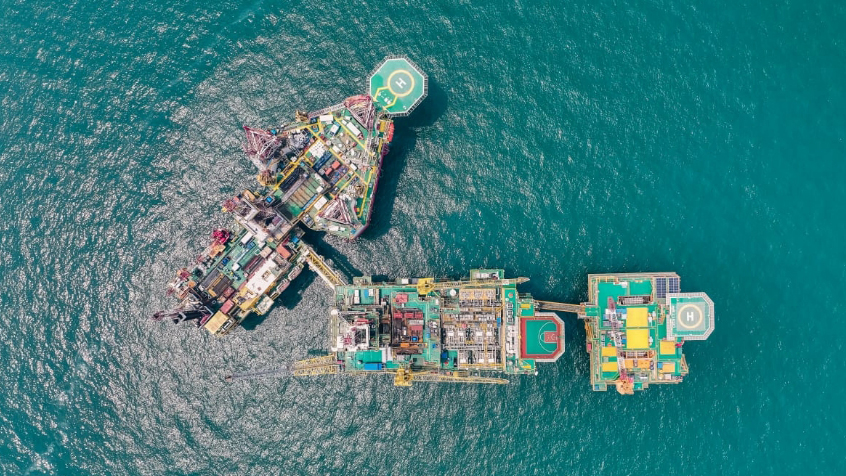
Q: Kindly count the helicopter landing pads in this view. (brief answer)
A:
2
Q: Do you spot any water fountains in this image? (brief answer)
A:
No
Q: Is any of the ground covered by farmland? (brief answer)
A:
No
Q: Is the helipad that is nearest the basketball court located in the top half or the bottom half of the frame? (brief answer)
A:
bottom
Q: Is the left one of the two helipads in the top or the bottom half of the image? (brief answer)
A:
top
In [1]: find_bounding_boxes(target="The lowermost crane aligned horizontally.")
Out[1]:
[392,369,508,387]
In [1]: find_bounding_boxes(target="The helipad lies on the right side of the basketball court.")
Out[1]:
[667,293,715,340]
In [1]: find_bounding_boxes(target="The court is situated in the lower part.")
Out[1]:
[519,312,565,363]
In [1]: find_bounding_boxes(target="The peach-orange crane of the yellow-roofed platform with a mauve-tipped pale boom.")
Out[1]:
[606,295,630,395]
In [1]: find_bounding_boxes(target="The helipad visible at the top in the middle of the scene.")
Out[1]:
[368,56,427,116]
